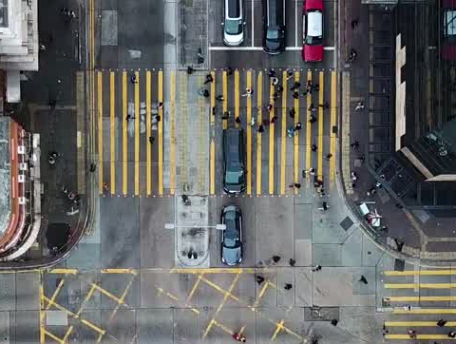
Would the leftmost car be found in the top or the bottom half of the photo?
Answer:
bottom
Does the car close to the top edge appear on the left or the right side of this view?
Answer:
right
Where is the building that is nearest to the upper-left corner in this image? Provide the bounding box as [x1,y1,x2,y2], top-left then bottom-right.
[0,0,59,82]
